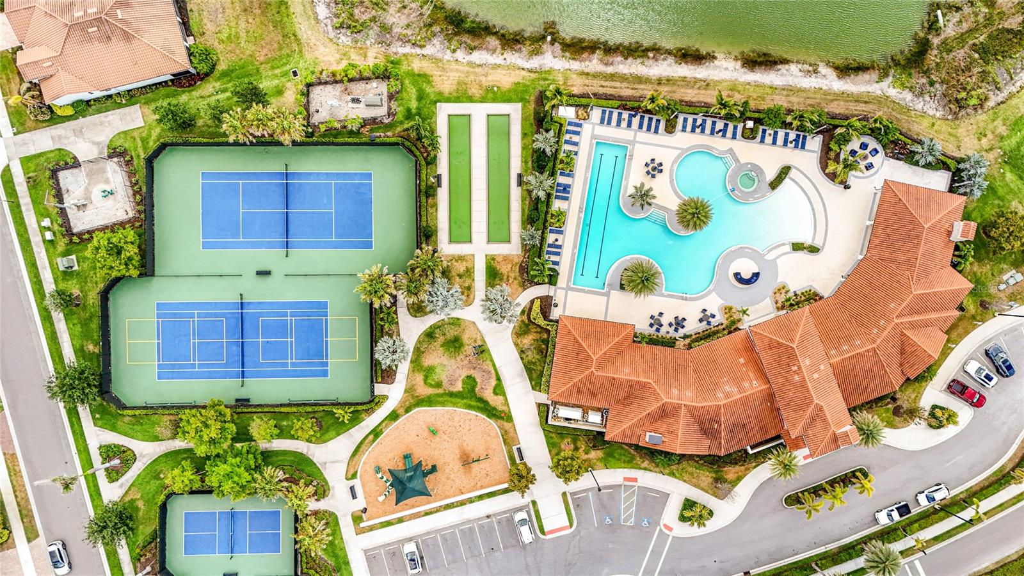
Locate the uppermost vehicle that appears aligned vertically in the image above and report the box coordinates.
[515,510,534,546]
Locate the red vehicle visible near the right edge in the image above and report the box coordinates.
[942,374,985,406]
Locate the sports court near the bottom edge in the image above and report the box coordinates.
[166,498,290,576]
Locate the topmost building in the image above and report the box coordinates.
[4,0,197,106]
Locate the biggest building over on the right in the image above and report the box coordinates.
[547,179,975,458]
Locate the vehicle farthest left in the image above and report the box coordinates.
[48,540,71,574]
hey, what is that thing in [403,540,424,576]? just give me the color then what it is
white car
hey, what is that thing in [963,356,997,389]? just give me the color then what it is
white car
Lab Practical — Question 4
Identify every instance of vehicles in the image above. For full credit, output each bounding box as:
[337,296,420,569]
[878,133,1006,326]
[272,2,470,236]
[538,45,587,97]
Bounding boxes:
[963,356,997,389]
[913,481,949,504]
[872,496,915,524]
[942,374,985,406]
[48,540,71,574]
[403,540,424,576]
[515,510,534,546]
[982,341,1014,378]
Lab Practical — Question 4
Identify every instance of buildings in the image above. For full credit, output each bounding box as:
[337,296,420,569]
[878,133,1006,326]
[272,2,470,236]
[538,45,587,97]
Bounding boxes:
[547,179,975,458]
[4,0,197,106]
